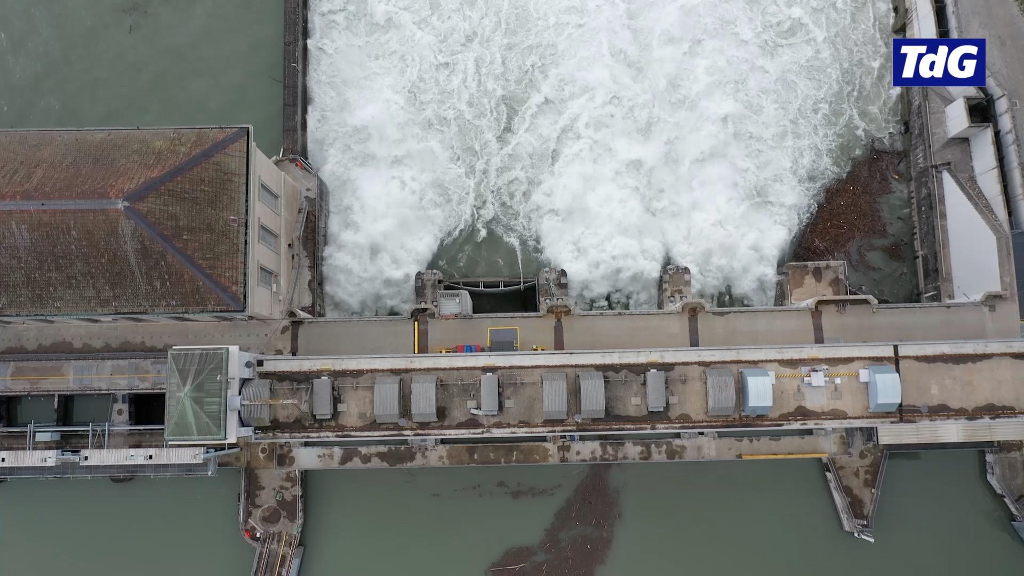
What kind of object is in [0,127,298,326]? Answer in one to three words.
building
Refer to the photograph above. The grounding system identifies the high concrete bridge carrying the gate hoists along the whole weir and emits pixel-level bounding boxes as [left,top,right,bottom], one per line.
[253,338,1024,442]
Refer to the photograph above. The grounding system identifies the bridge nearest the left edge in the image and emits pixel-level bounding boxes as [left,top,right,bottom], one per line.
[248,532,303,576]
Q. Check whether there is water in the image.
Yes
